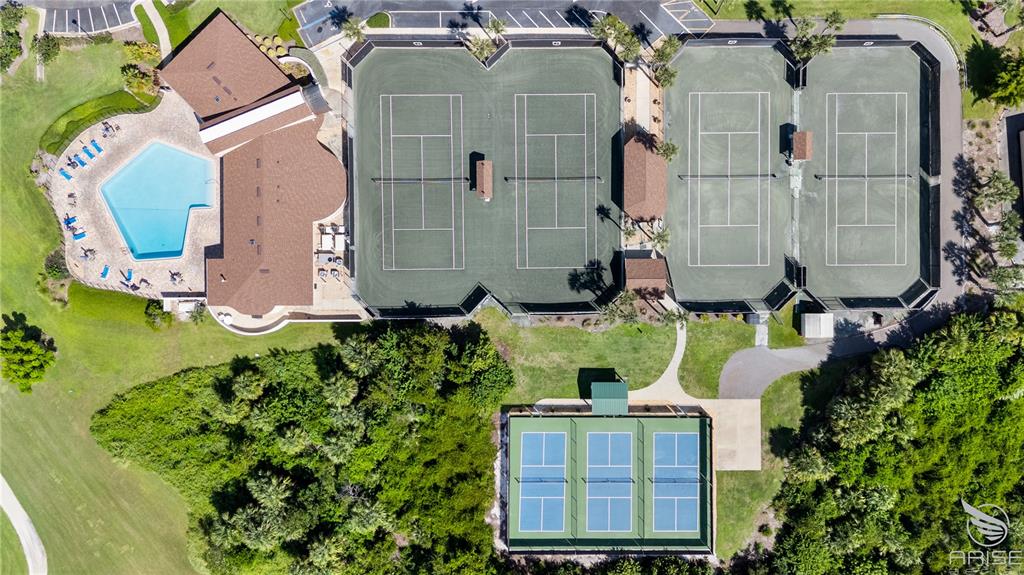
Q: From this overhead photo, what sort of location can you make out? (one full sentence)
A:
What you see here is a sports ground.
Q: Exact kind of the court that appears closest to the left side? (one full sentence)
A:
The court that appears closest to the left side in the image is a tennis court.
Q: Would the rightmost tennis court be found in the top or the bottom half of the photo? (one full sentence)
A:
It is in the top half that the rightmost tennis court appears.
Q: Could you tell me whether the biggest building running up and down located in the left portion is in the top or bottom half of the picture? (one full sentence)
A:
You can find the biggest building running up and down located in the left portion in the top half.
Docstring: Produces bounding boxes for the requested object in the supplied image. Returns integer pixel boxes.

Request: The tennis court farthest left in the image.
[354,48,490,317]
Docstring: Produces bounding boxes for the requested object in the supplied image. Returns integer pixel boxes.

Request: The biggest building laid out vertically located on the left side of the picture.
[160,13,363,336]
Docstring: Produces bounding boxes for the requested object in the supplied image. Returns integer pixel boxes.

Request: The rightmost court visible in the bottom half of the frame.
[644,417,709,547]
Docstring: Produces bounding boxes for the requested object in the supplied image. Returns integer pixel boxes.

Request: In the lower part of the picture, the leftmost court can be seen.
[509,417,576,547]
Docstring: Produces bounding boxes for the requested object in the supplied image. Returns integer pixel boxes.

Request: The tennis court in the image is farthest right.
[800,47,927,309]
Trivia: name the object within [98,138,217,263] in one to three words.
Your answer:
swimming pool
